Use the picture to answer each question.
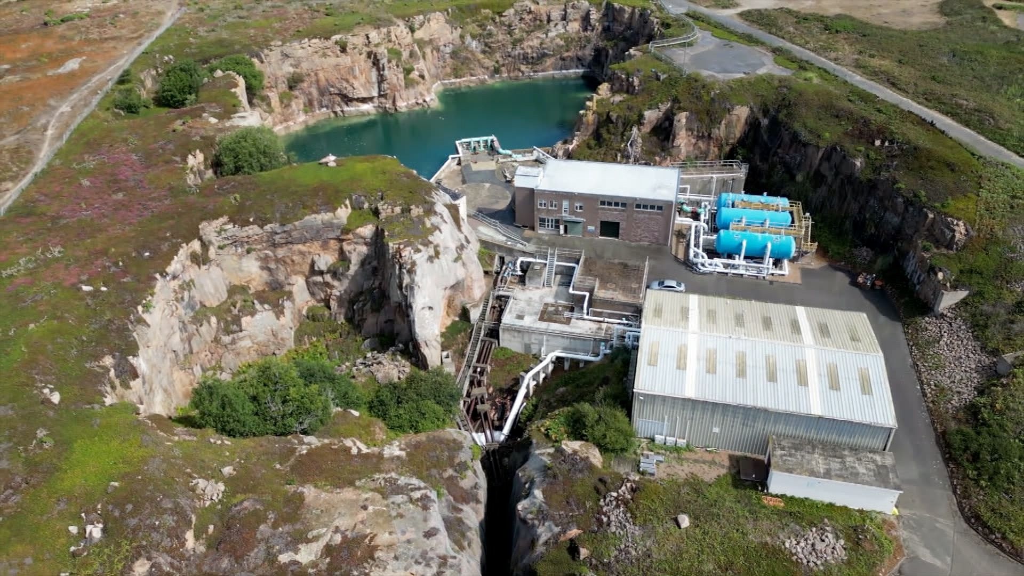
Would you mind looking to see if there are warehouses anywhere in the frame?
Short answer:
Yes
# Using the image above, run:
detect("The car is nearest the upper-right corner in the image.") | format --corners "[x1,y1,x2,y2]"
[650,275,686,292]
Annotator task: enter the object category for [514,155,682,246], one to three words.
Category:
building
